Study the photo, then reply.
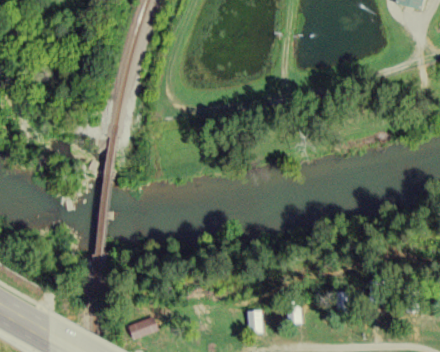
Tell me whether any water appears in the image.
Yes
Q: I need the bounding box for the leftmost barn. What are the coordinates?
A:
[128,316,158,340]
